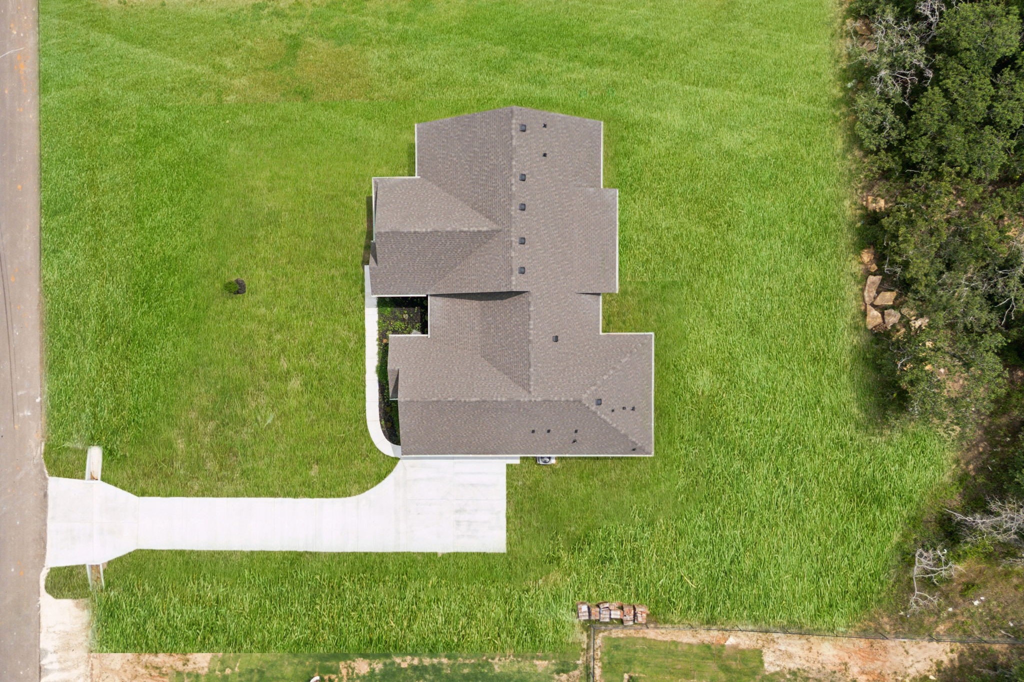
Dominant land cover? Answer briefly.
grass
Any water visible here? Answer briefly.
No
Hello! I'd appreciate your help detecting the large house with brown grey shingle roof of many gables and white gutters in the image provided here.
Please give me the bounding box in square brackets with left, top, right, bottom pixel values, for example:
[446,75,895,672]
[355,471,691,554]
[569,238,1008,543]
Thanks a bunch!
[369,106,655,457]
